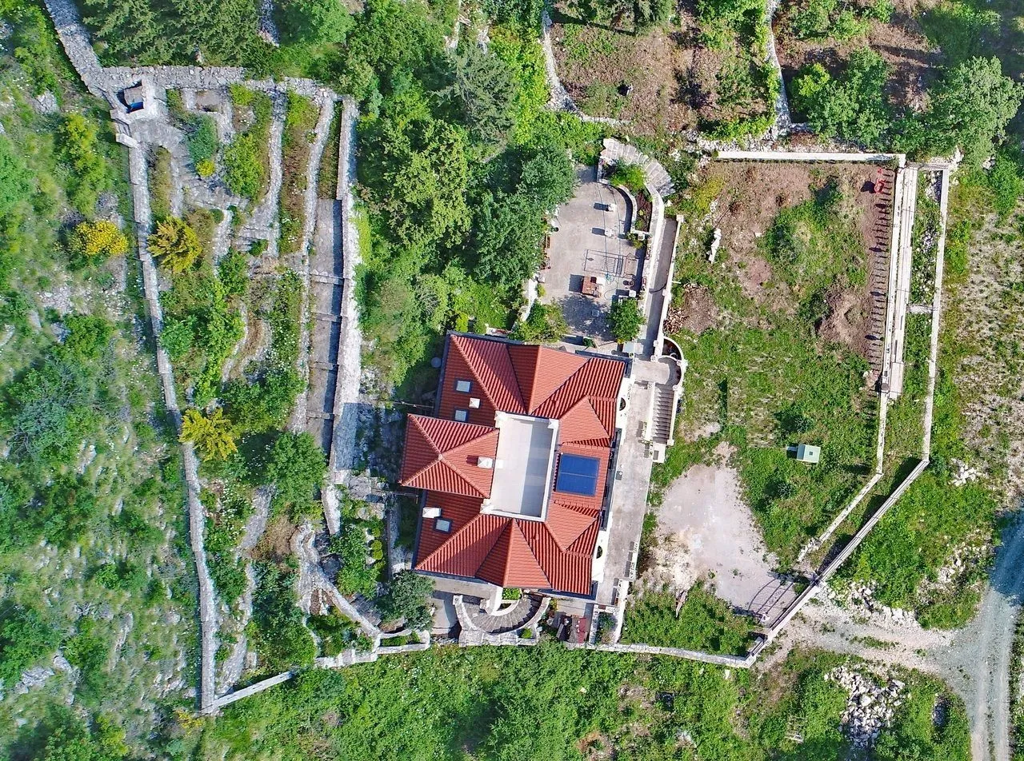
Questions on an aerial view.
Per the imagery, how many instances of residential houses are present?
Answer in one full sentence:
Only 1 residential house is visible.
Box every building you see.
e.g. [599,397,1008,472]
[397,328,638,609]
